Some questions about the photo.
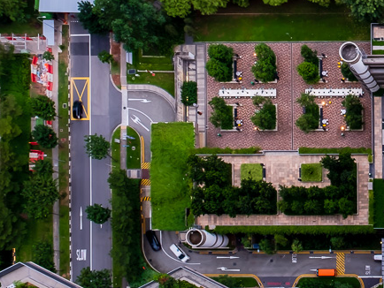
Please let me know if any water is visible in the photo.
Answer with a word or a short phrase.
No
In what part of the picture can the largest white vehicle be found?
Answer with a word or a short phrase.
bottom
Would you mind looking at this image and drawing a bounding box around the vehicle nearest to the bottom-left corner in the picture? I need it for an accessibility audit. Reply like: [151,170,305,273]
[145,229,163,252]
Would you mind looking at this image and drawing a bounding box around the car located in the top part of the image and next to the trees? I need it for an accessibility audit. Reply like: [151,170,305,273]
[72,99,84,121]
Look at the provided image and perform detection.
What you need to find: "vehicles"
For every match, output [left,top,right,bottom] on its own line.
[145,229,163,252]
[72,99,84,121]
[168,241,192,263]
[373,253,381,263]
[311,268,338,278]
